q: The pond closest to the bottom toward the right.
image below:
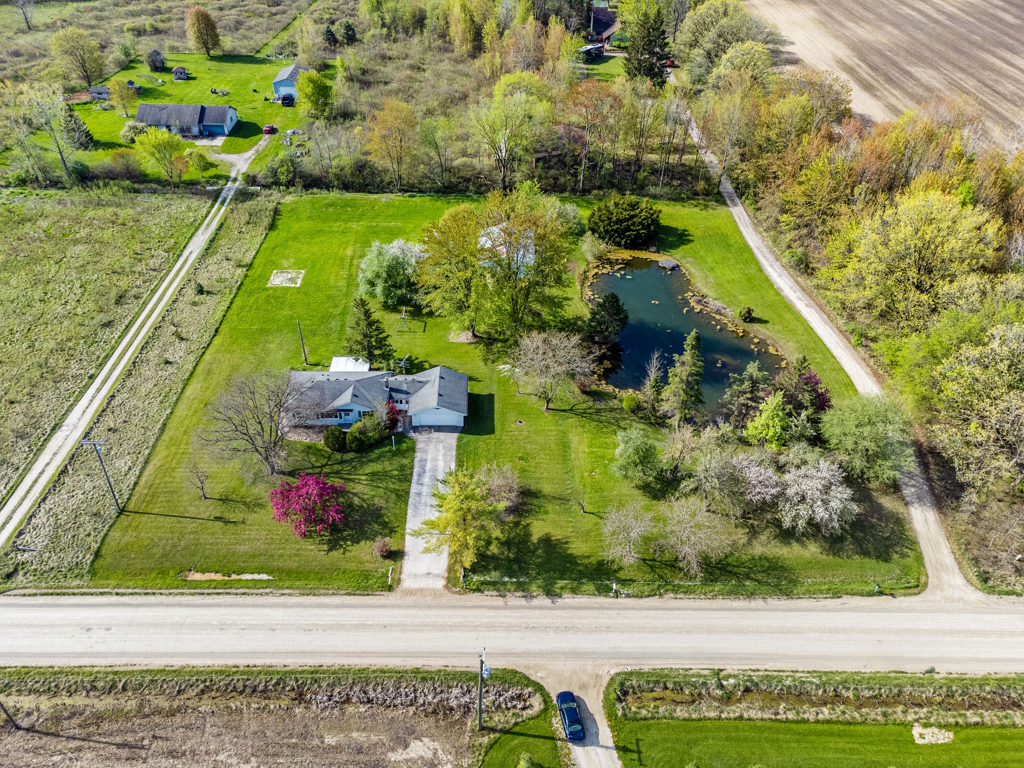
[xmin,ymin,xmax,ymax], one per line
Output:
[588,249,788,427]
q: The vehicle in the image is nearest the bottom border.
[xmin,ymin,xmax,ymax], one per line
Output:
[555,691,588,747]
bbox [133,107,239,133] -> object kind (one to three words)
house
